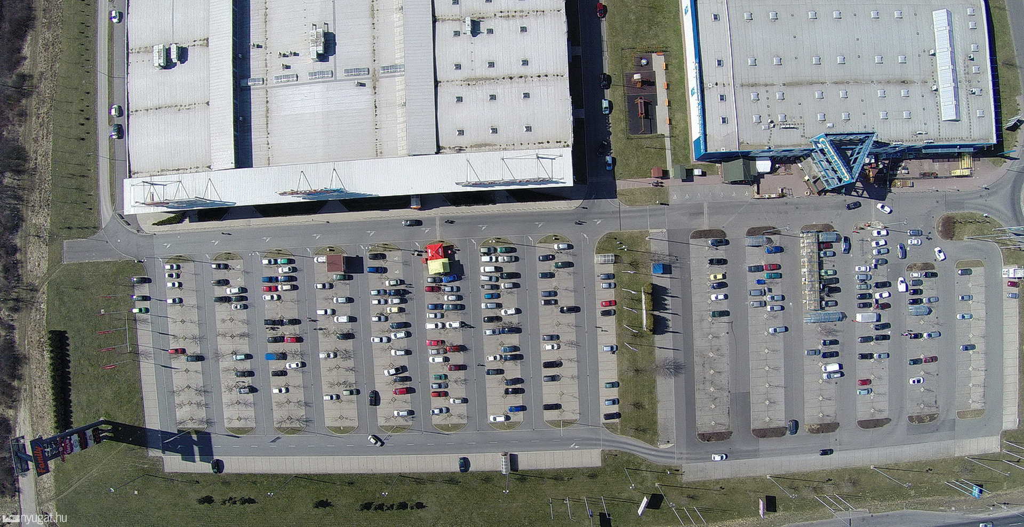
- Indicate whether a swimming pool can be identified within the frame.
No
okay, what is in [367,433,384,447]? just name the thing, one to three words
car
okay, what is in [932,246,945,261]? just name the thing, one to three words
vehicle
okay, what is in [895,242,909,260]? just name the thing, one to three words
vehicle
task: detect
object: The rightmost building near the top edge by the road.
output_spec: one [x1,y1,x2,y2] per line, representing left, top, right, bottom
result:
[679,0,996,163]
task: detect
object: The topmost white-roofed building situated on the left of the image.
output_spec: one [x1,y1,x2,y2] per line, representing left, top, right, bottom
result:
[123,0,574,215]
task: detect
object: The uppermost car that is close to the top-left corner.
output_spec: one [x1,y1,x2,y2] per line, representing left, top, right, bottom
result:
[110,9,122,24]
